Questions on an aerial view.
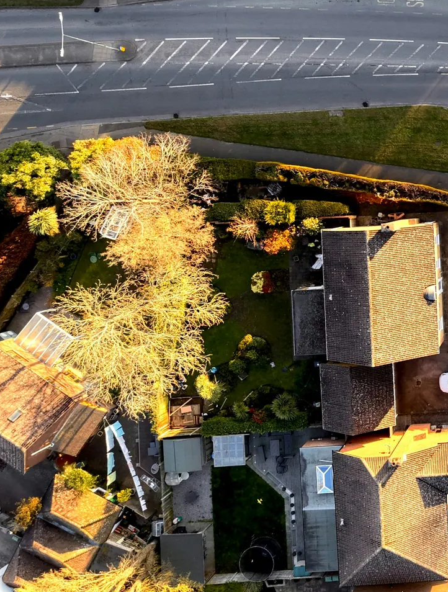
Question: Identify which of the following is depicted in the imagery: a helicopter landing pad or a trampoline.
trampoline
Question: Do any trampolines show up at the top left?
No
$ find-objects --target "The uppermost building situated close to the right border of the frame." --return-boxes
[320,215,445,365]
